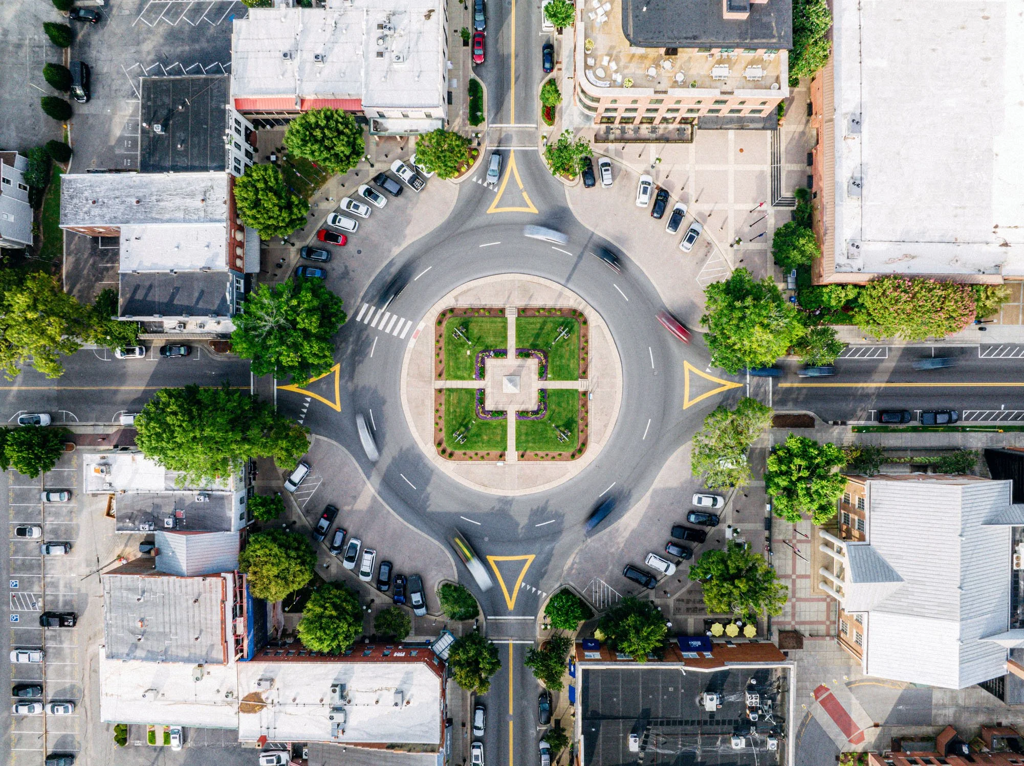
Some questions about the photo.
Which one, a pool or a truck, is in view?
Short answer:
truck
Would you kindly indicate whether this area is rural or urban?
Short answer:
urban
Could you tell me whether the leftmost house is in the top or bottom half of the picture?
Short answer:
top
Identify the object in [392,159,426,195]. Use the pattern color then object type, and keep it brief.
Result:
white truck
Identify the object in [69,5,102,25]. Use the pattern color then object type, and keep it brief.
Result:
black car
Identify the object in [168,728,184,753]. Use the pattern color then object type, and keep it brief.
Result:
white car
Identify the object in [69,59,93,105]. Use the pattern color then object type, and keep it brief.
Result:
black vehicle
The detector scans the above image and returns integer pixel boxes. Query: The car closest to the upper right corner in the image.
[917,356,952,372]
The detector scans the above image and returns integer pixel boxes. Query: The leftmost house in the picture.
[0,151,42,249]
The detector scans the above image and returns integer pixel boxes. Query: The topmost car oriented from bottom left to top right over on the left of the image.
[380,272,411,307]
